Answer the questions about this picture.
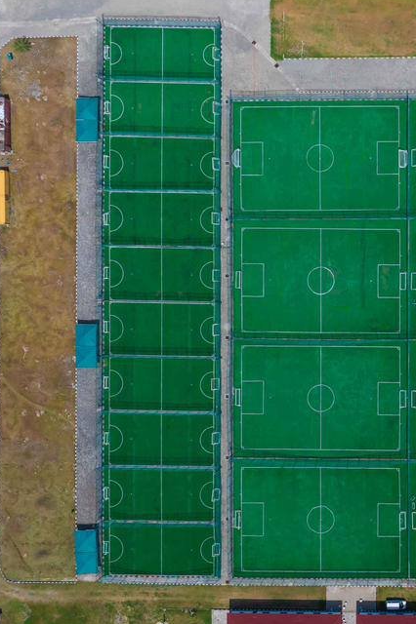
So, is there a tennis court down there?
No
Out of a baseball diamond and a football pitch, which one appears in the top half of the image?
football pitch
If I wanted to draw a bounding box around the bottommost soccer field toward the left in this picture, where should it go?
[104,521,220,577]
